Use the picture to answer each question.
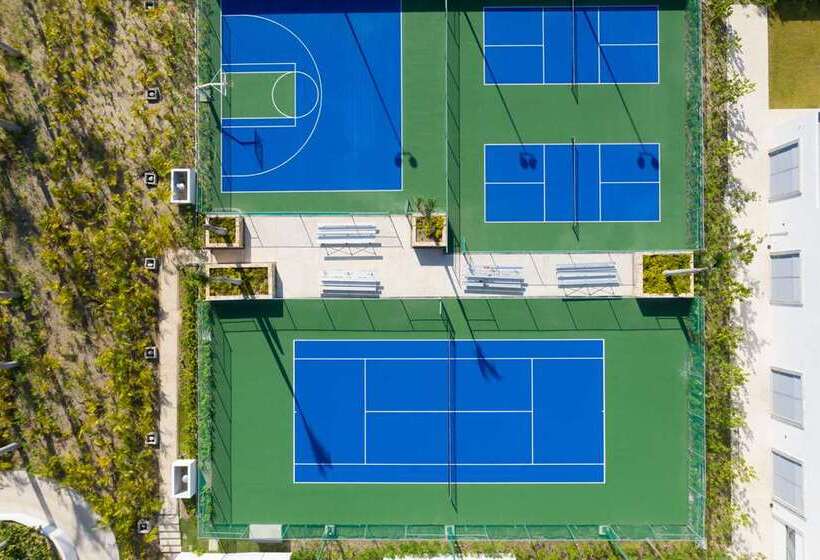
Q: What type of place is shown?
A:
sports ground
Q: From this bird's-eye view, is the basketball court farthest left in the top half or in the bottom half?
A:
top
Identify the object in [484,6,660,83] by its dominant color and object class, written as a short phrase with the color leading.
blue sports court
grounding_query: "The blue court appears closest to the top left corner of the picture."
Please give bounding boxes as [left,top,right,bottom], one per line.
[199,0,446,216]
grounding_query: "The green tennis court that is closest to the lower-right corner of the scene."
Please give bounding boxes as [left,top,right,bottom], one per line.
[199,300,704,539]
